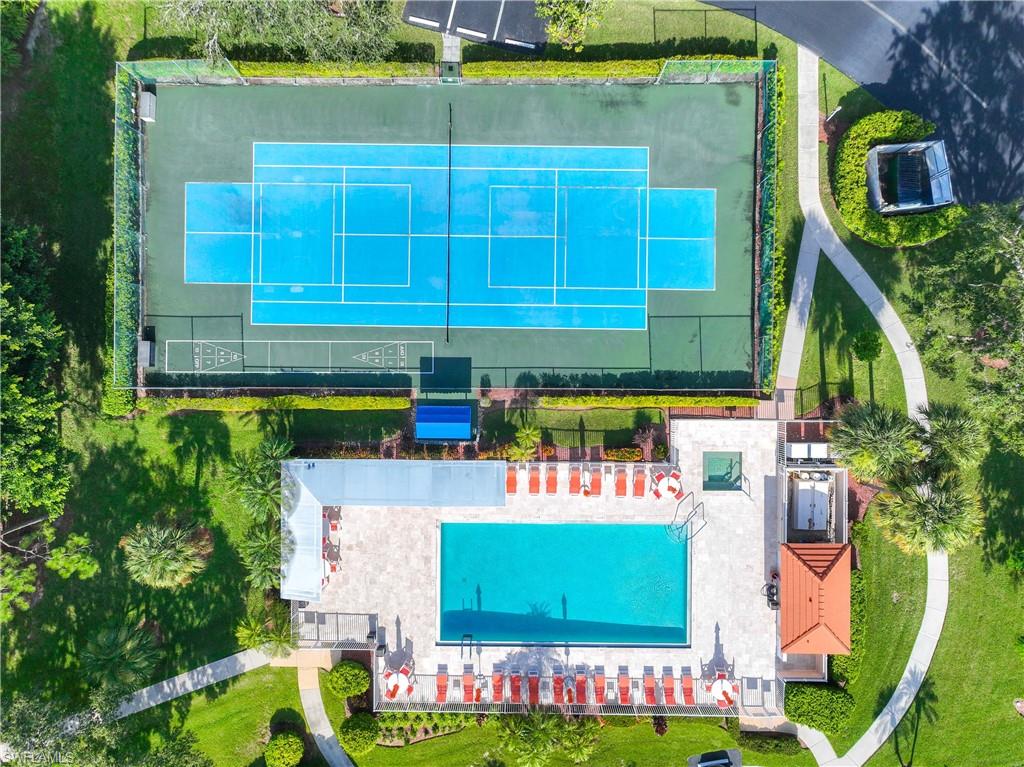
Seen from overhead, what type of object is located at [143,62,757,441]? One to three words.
tennis court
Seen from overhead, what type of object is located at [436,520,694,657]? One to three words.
swimming pool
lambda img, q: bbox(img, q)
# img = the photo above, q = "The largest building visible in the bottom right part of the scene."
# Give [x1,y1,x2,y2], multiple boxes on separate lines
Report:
[771,540,853,684]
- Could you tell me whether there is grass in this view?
Yes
